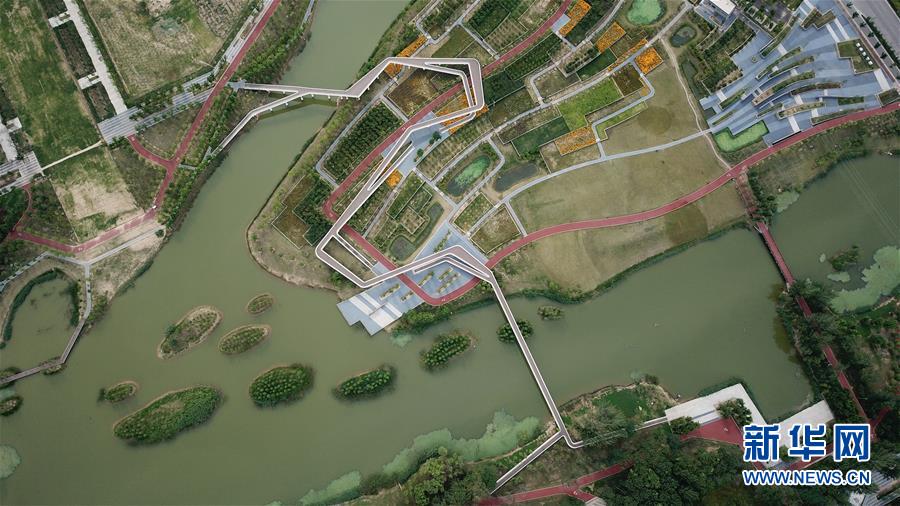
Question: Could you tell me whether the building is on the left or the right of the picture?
right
